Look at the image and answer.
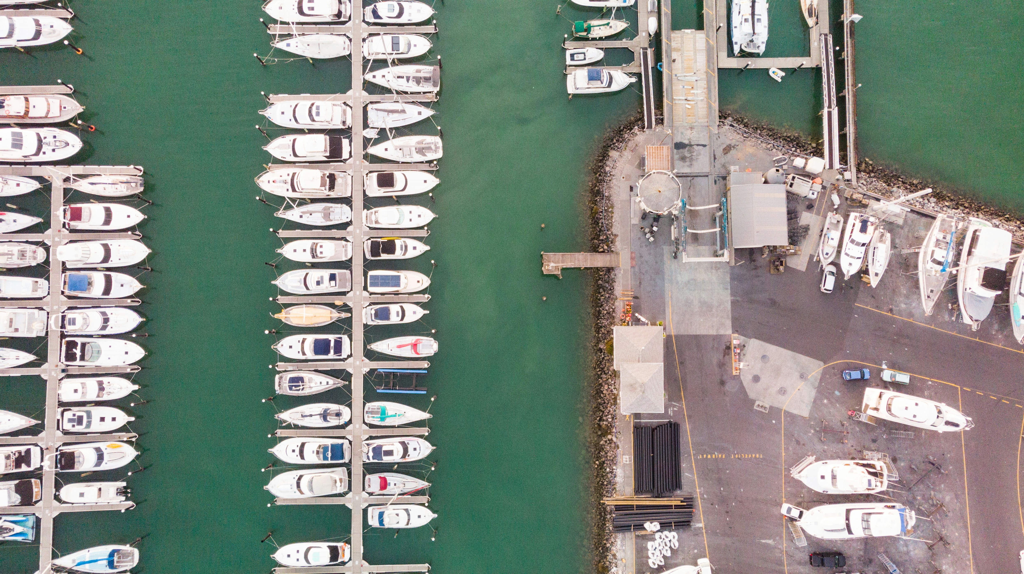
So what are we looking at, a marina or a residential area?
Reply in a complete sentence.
It's a marina.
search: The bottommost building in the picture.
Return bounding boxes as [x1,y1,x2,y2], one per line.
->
[619,362,665,414]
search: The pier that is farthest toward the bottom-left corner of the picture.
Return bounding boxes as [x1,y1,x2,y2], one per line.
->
[0,165,144,574]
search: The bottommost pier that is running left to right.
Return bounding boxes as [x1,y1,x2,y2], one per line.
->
[541,251,613,279]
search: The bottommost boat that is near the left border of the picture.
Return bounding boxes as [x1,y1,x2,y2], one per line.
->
[47,546,143,574]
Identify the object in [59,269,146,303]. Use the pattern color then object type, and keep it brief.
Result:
white boat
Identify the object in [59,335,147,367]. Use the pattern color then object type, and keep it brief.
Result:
white boat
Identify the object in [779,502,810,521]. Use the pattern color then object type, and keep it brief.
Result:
white car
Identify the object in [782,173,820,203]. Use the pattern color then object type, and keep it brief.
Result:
white truck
